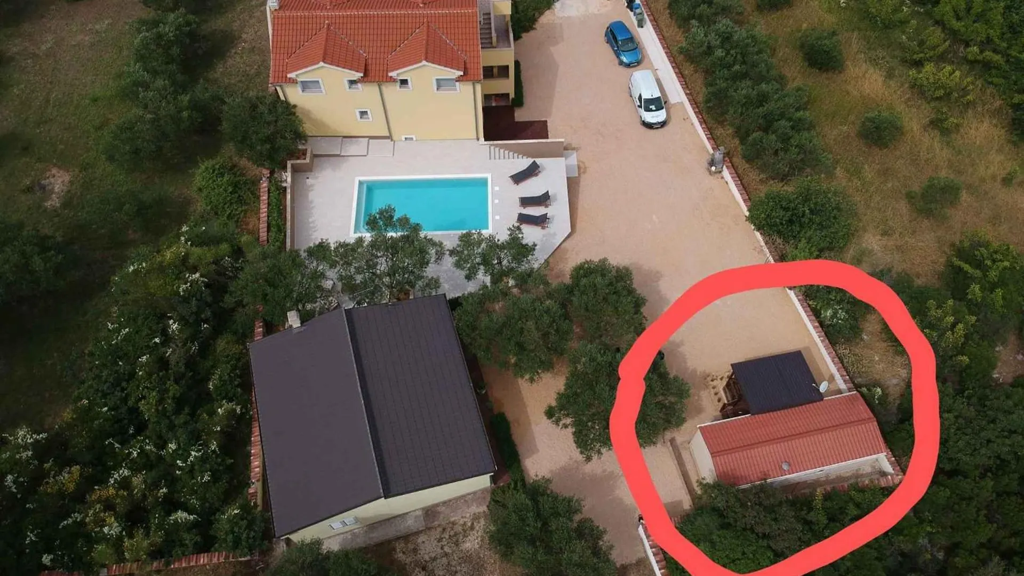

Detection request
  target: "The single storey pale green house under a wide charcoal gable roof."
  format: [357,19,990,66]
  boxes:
[248,294,499,542]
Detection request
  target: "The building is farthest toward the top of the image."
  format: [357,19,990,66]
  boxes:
[270,0,516,142]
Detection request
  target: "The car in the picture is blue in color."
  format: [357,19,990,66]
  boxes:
[603,18,643,66]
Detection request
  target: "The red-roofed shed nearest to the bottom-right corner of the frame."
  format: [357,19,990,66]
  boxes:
[689,392,883,498]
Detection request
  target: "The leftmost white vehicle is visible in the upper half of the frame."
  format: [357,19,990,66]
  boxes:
[628,63,669,127]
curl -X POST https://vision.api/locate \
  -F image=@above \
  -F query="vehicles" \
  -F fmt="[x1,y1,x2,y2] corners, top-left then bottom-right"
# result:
[628,63,669,127]
[603,18,643,66]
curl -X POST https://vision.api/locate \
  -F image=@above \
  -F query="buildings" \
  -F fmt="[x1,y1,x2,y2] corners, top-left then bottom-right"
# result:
[270,0,516,142]
[248,294,499,542]
[689,392,883,498]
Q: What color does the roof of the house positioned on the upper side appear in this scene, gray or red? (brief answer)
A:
red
